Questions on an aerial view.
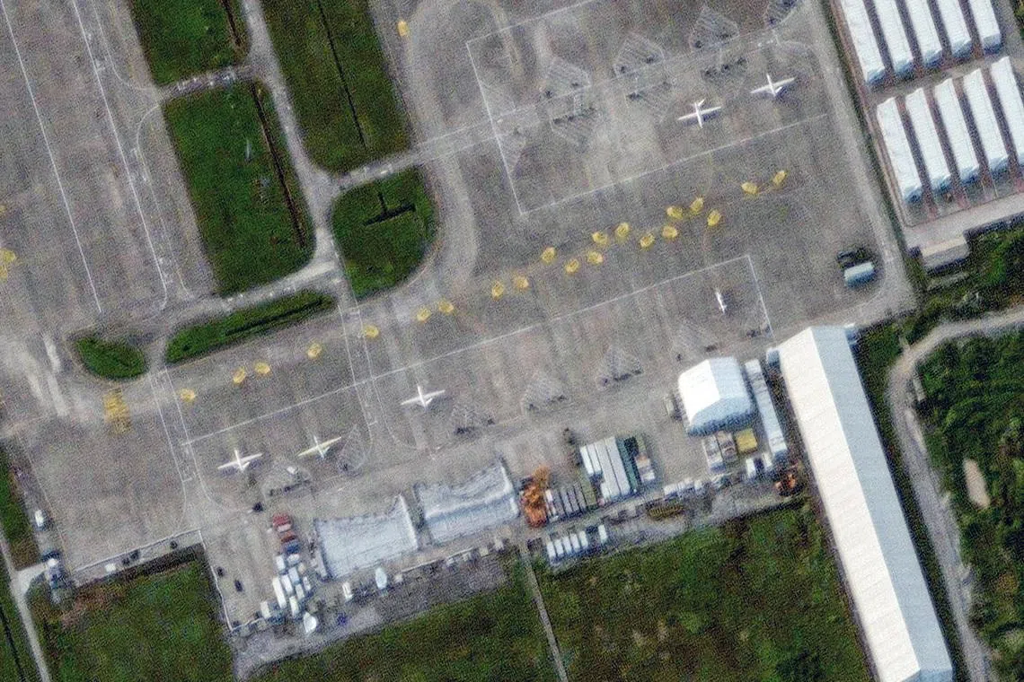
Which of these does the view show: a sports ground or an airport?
airport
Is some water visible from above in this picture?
No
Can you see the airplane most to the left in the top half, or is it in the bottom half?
bottom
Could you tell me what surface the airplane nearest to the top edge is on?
apron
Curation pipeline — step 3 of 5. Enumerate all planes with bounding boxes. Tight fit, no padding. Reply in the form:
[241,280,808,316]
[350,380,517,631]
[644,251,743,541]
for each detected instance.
[751,74,792,96]
[677,102,720,127]
[218,449,261,473]
[401,385,443,407]
[299,436,341,460]
[716,290,728,313]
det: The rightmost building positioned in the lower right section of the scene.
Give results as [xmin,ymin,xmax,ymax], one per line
[778,325,954,682]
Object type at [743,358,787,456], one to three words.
shed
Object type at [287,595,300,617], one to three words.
vehicle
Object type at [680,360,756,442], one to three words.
hangar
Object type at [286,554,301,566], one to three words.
vehicle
